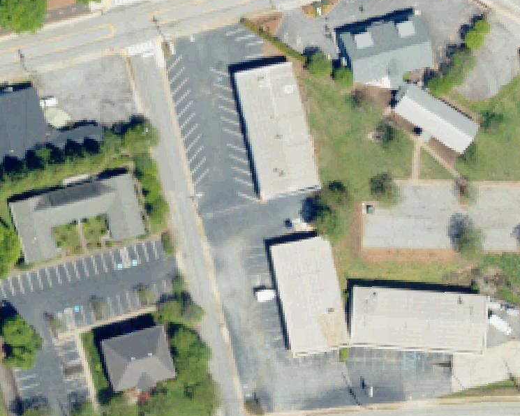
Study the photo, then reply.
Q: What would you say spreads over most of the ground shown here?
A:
paved ground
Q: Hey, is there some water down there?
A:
No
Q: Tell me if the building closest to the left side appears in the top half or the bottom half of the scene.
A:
top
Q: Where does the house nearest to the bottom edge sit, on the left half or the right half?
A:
left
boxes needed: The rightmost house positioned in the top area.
[396,84,480,154]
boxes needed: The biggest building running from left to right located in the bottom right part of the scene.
[349,286,487,358]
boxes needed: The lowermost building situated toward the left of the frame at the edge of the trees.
[101,325,176,393]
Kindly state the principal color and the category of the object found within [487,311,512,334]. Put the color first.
white truck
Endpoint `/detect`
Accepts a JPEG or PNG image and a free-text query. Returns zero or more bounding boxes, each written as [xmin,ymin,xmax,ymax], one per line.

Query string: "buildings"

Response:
[9,174,145,262]
[101,325,176,393]
[338,16,433,88]
[396,84,480,154]
[234,62,322,201]
[0,87,49,159]
[349,286,487,358]
[270,235,349,358]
